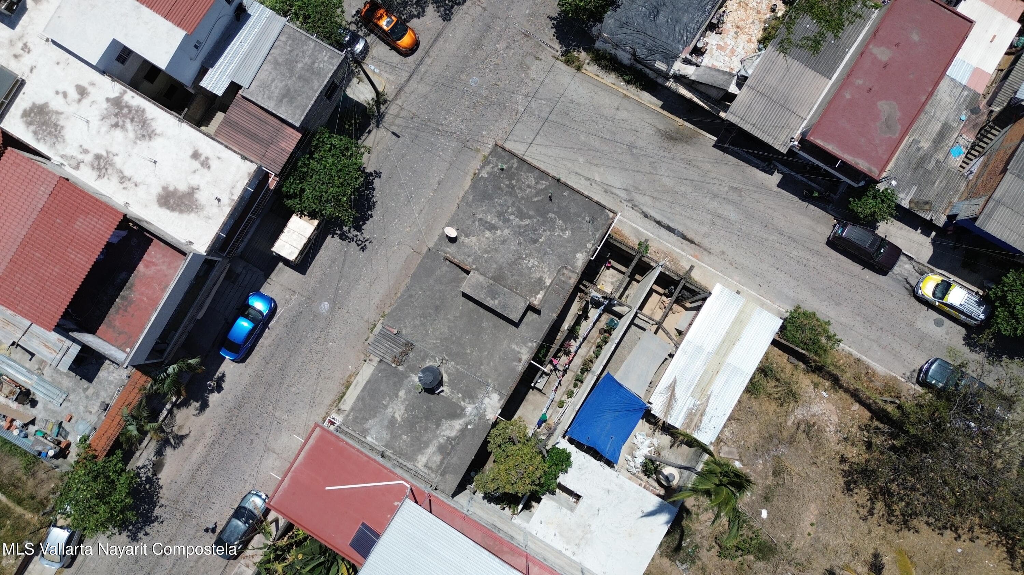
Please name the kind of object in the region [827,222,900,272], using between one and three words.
car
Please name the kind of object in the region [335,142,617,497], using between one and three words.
building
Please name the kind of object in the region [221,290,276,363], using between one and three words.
car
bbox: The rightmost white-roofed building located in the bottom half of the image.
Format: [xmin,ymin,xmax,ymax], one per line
[647,284,782,443]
